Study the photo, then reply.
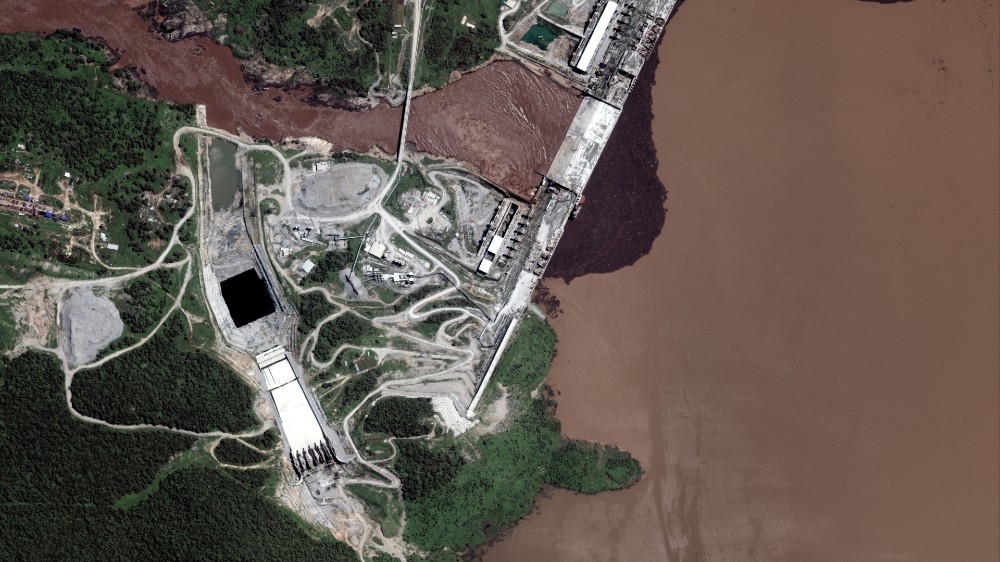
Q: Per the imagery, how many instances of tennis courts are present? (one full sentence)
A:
The count of tennis courts is 0.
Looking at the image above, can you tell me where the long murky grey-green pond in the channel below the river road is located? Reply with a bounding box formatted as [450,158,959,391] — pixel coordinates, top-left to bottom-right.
[208,138,242,210]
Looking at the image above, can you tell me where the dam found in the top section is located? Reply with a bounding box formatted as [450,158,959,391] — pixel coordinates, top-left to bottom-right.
[467,0,675,419]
